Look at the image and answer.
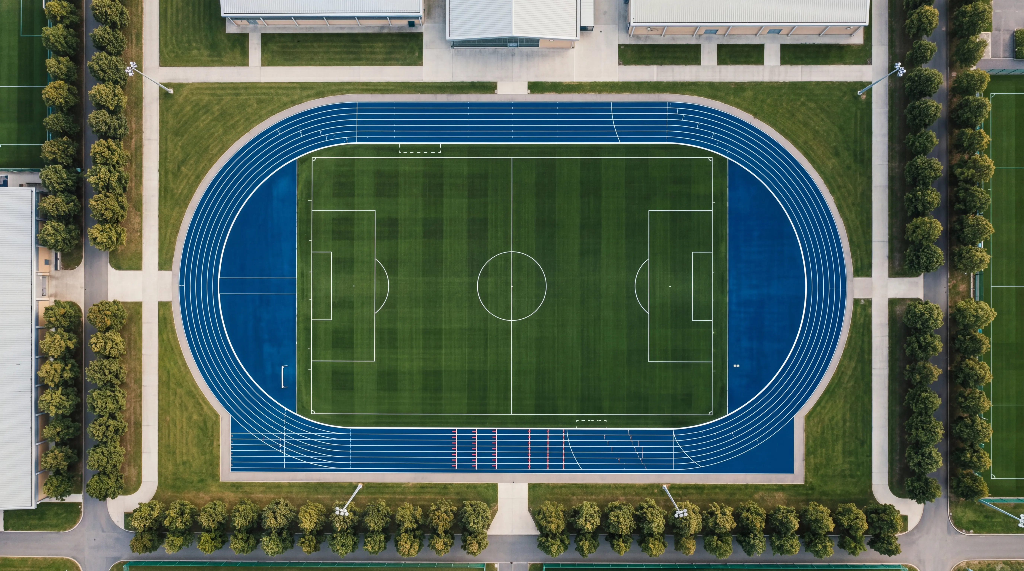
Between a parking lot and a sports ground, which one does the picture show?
sports ground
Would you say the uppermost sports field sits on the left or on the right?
left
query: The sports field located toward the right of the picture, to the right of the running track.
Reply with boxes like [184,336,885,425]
[984,74,1024,498]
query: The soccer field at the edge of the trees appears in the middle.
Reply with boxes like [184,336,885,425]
[296,144,728,428]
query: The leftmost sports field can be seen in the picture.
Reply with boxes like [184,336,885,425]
[0,0,56,168]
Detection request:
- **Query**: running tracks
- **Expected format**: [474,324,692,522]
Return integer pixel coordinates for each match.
[178,101,847,474]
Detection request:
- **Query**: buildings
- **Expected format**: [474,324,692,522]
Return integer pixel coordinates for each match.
[0,187,51,510]
[220,0,423,26]
[628,0,870,37]
[446,0,579,50]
